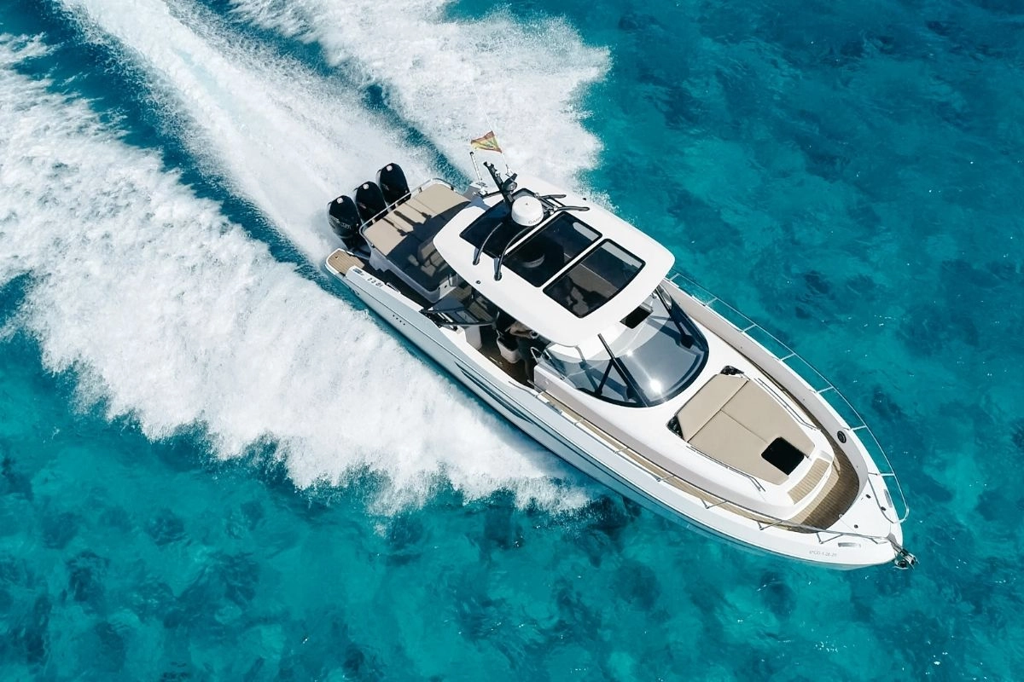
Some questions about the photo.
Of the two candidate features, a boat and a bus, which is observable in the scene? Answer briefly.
boat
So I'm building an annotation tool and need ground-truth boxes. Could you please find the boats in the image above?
[325,90,926,566]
